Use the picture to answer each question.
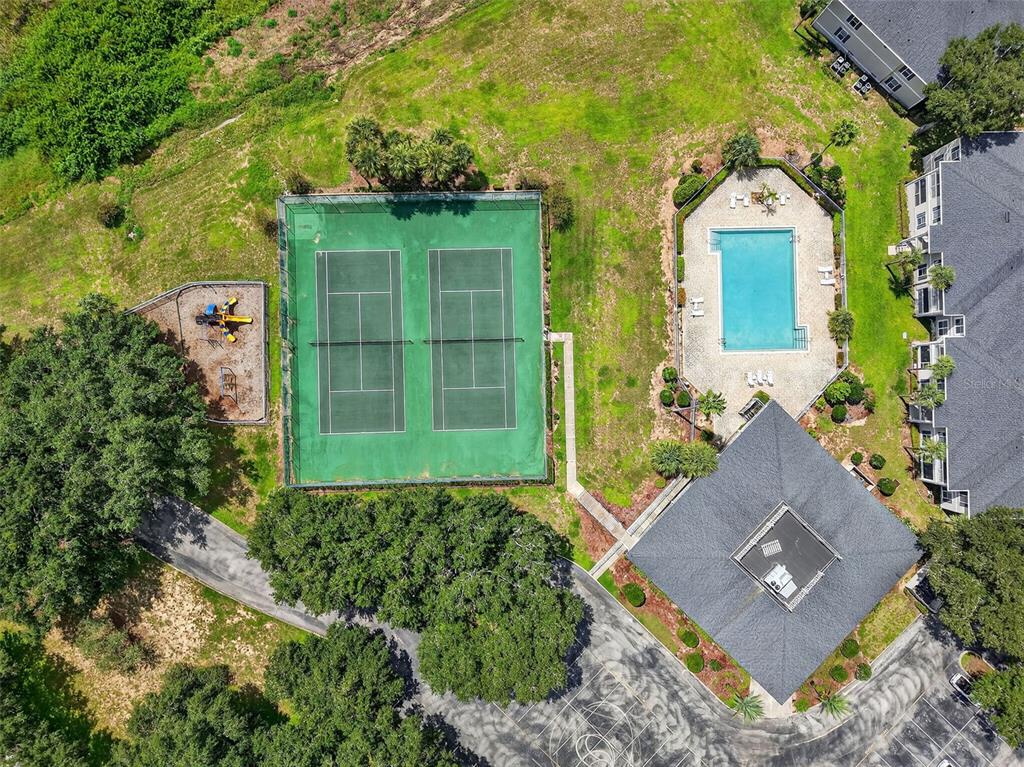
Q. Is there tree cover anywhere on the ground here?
Yes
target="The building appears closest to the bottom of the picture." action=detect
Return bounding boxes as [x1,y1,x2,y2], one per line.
[626,399,923,705]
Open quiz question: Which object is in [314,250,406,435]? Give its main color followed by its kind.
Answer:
green tennis court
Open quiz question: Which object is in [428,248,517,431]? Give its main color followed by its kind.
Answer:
green tennis court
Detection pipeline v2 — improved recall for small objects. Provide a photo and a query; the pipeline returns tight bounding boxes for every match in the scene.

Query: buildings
[896,131,1024,520]
[811,0,1020,110]
[626,399,923,705]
